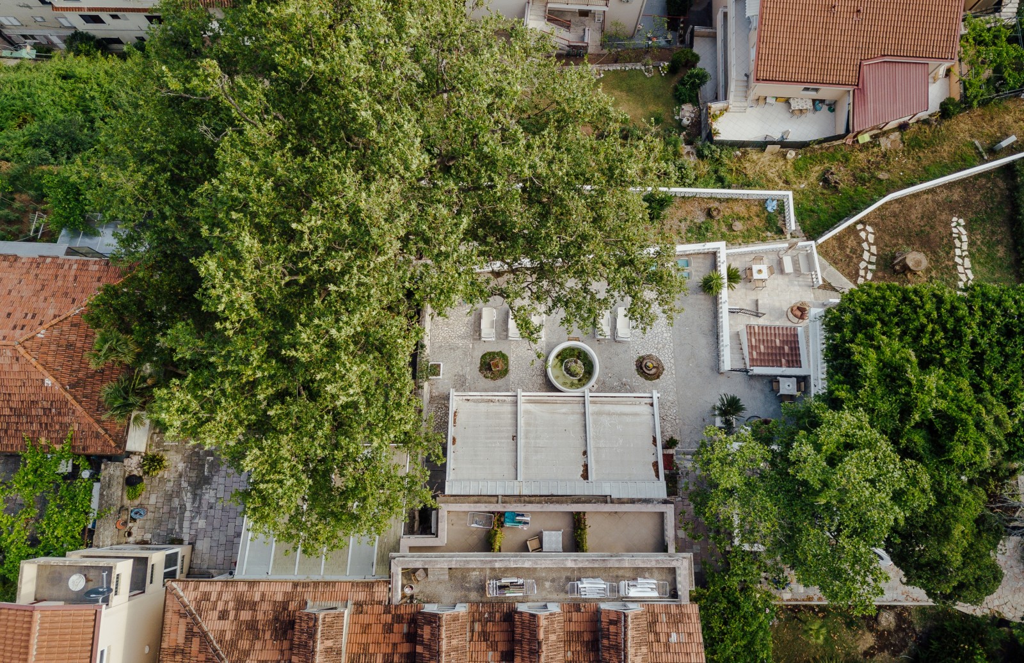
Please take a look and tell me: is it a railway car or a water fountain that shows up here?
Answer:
water fountain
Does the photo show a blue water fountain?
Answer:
No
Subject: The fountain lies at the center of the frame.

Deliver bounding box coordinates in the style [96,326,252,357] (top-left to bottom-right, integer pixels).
[548,339,601,392]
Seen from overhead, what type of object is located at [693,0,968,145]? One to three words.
house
